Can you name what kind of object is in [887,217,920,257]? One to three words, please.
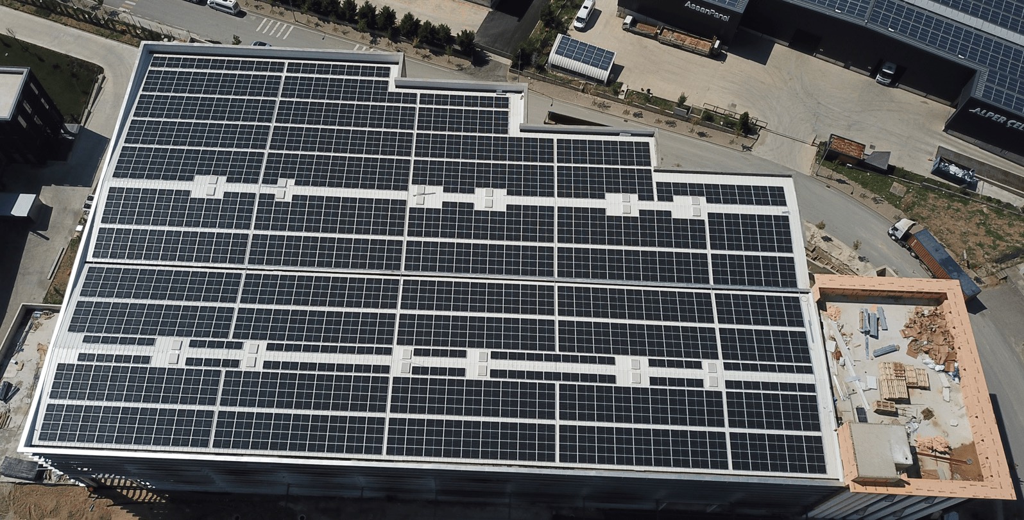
vehicle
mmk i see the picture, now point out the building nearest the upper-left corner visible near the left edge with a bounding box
[0,67,64,168]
